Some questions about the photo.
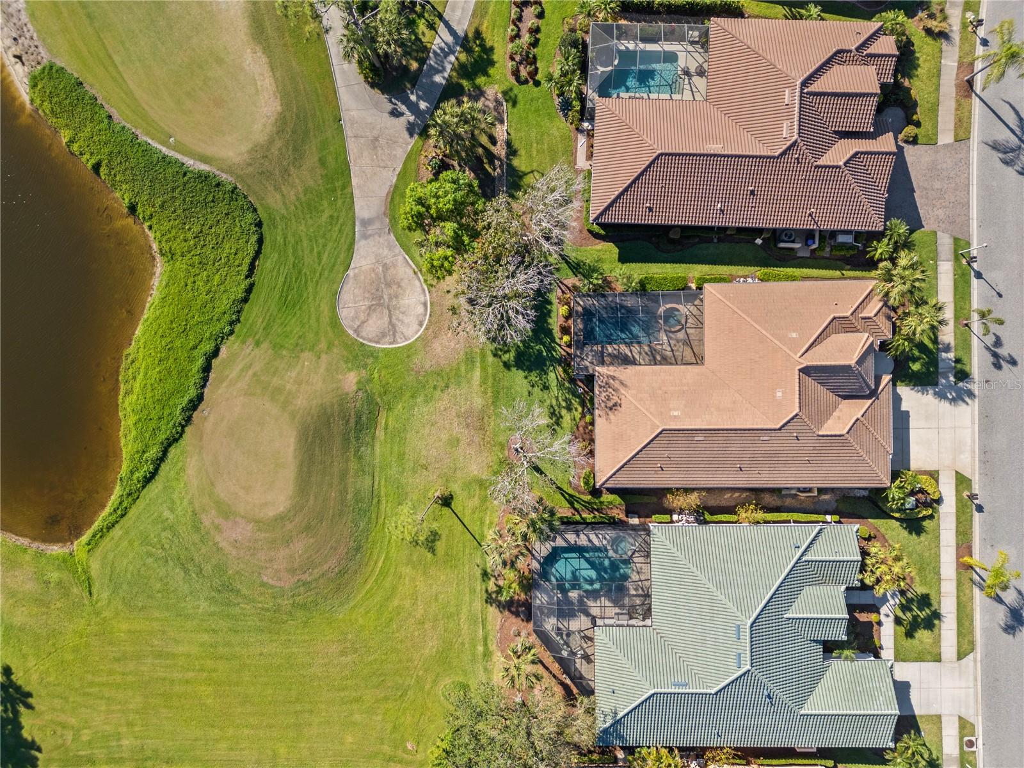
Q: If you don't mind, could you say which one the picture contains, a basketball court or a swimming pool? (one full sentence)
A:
This aerial view contains a swimming pool.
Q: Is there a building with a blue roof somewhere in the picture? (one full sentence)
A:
No, the frame has no building with a blue roof in it.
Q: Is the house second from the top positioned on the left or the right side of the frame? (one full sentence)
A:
The house second from the top appears in the right half of the scene.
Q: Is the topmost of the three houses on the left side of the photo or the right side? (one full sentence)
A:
You can find the topmost of the three houses on the right side of the picture.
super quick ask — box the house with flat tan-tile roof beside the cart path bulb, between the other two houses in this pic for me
[593,280,895,490]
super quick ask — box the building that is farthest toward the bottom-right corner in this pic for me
[592,523,903,748]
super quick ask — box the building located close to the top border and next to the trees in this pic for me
[589,15,899,232]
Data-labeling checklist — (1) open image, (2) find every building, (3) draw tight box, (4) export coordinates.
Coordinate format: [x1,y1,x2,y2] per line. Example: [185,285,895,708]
[593,280,895,490]
[589,15,899,232]
[592,523,903,748]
